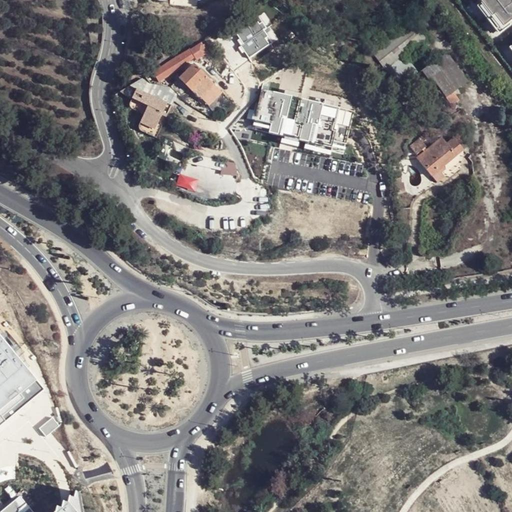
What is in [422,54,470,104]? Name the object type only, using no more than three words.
barn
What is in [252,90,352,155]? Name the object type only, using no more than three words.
building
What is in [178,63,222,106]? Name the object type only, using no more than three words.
house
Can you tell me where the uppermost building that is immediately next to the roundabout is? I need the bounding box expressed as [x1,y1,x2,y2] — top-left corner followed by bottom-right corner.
[0,334,42,424]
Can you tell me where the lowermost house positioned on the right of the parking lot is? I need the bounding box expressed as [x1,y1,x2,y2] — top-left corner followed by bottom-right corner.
[410,136,468,182]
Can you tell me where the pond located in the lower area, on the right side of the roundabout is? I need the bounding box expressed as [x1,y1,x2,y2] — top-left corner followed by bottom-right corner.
[239,418,297,494]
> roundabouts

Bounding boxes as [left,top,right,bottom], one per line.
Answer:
[66,292,230,452]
